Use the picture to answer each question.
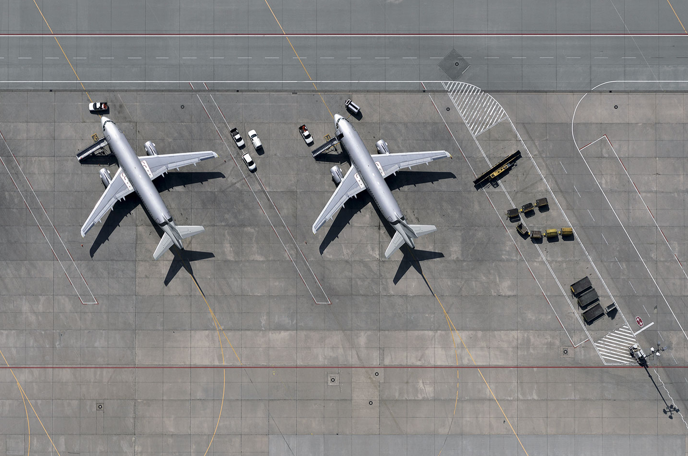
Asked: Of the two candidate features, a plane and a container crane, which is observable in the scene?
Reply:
plane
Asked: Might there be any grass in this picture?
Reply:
No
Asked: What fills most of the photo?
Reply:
paved ground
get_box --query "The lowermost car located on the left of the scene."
[242,153,257,172]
